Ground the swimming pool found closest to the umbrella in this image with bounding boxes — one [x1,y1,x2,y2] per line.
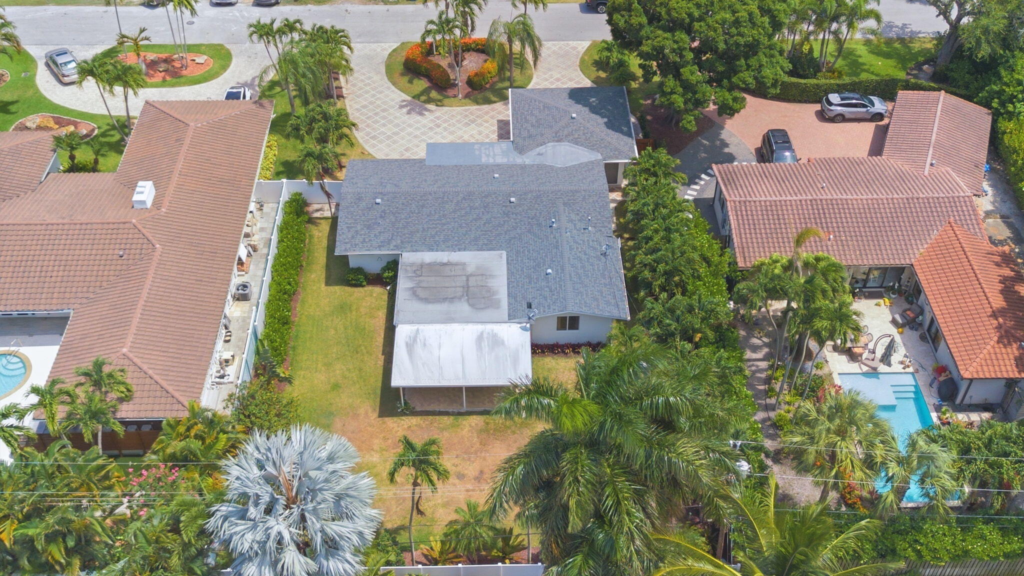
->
[832,369,965,510]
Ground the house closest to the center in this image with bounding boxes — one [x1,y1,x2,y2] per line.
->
[334,86,638,412]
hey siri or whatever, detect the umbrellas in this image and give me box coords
[864,322,911,365]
